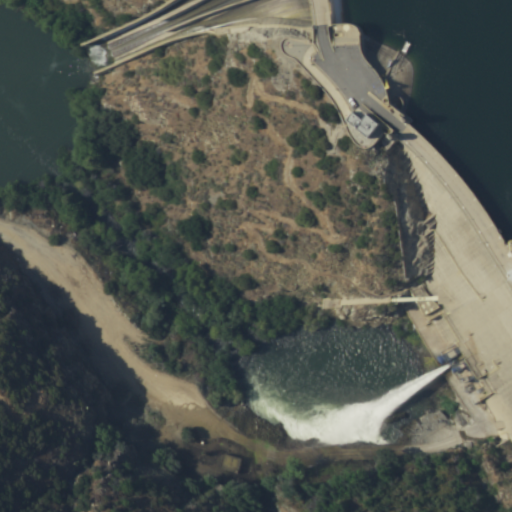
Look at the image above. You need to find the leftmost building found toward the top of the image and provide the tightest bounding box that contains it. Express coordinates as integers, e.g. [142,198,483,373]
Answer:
[346,113,379,138]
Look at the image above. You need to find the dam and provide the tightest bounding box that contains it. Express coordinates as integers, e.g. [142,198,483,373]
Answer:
[386,116,512,392]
